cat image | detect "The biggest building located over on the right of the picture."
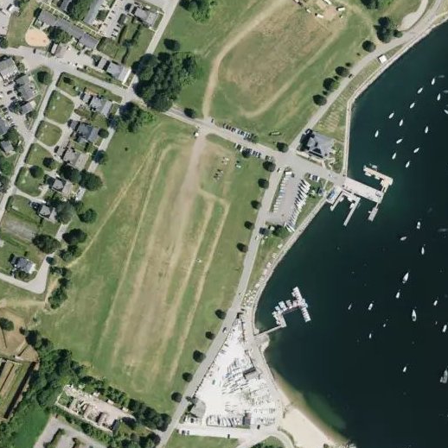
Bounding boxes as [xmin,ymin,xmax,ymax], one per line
[307,131,337,159]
